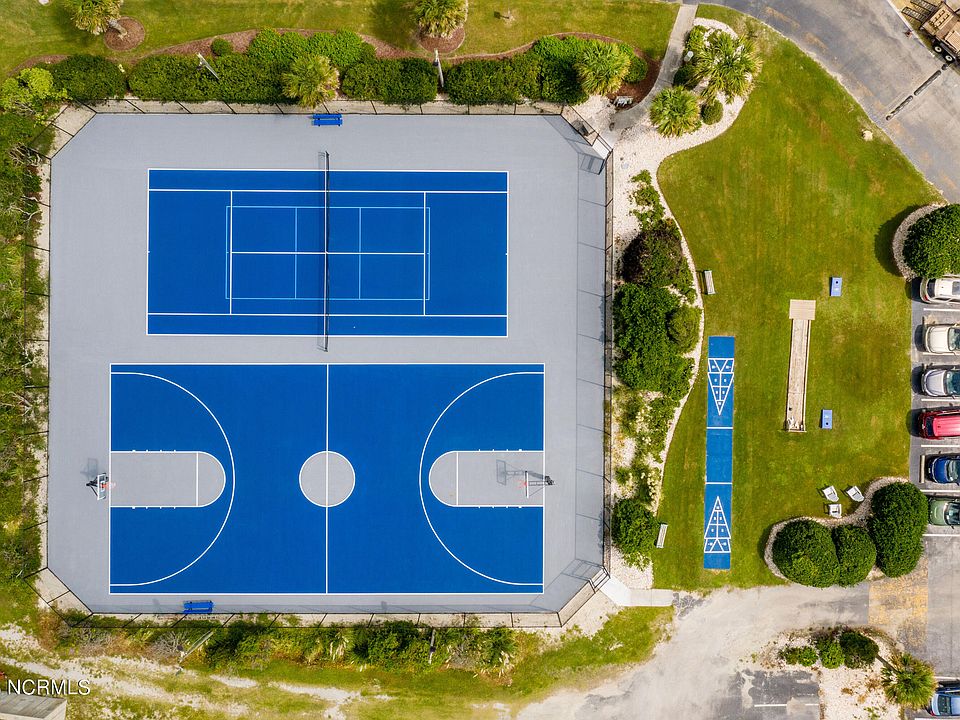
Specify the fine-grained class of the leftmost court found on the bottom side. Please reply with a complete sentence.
The leftmost court found on the bottom side can be classified as a basketball court.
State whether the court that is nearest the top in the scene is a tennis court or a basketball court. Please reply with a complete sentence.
The court that is nearest the top appears to be a tennis court.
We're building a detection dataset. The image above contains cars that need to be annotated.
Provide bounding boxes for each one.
[929,682,960,717]
[917,277,960,306]
[928,496,960,528]
[922,367,960,399]
[930,454,960,488]
[922,322,960,356]
[916,411,960,440]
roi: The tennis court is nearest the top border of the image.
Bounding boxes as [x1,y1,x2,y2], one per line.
[147,168,508,337]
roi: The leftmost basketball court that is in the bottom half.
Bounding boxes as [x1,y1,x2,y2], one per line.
[110,364,544,594]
